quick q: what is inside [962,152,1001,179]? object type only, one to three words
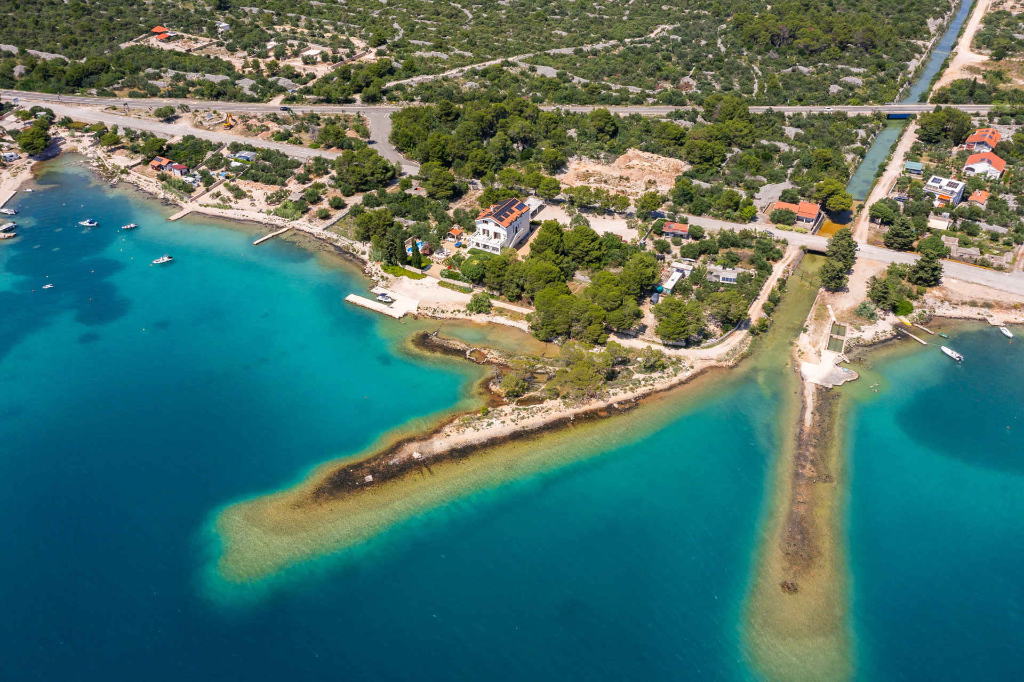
house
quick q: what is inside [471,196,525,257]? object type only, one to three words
house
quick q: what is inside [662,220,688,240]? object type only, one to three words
building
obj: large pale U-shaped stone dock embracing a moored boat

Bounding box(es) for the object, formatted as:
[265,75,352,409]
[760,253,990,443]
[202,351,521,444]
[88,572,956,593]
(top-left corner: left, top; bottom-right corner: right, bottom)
[345,286,420,321]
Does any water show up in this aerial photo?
Yes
